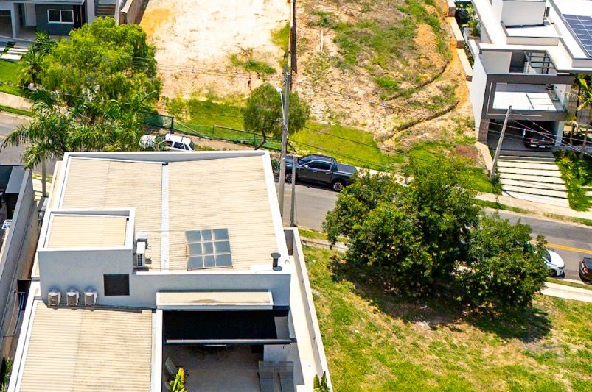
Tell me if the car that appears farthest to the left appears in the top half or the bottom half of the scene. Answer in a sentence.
You can find the car that appears farthest to the left in the top half.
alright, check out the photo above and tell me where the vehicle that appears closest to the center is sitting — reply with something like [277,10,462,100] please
[281,152,365,192]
